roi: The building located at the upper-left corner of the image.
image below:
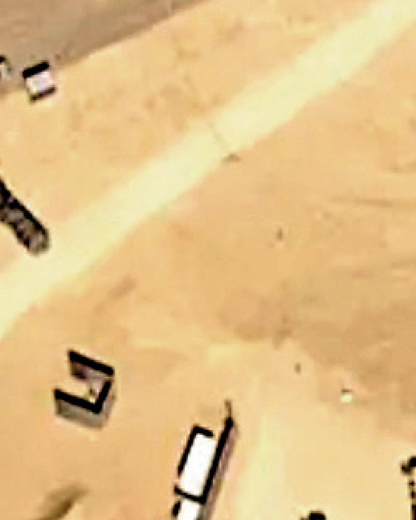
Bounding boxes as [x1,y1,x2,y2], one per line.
[27,73,56,100]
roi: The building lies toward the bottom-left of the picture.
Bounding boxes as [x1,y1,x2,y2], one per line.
[56,360,116,427]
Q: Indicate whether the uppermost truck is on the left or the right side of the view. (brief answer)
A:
left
